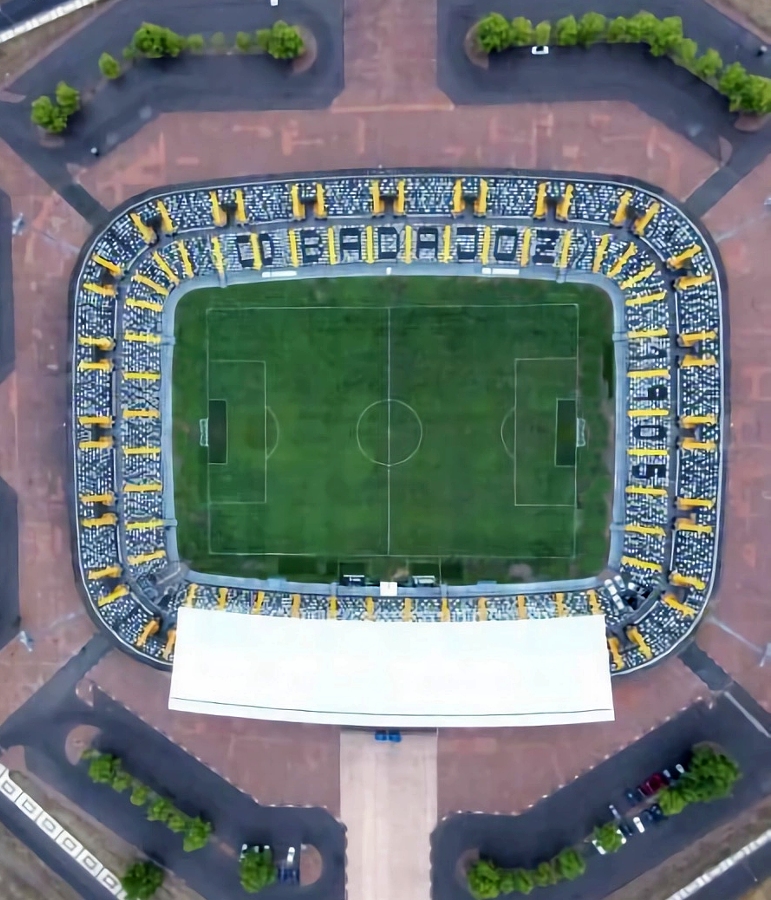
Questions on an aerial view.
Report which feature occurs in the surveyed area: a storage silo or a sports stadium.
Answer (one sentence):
The one in the frame is a sports stadium.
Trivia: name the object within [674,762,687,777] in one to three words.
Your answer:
vehicle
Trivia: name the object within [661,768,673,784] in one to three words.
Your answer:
vehicle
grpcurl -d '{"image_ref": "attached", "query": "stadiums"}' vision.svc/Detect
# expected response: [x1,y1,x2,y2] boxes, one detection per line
[65,164,731,727]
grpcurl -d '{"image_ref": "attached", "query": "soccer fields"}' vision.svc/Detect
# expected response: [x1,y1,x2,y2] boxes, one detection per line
[173,275,616,585]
